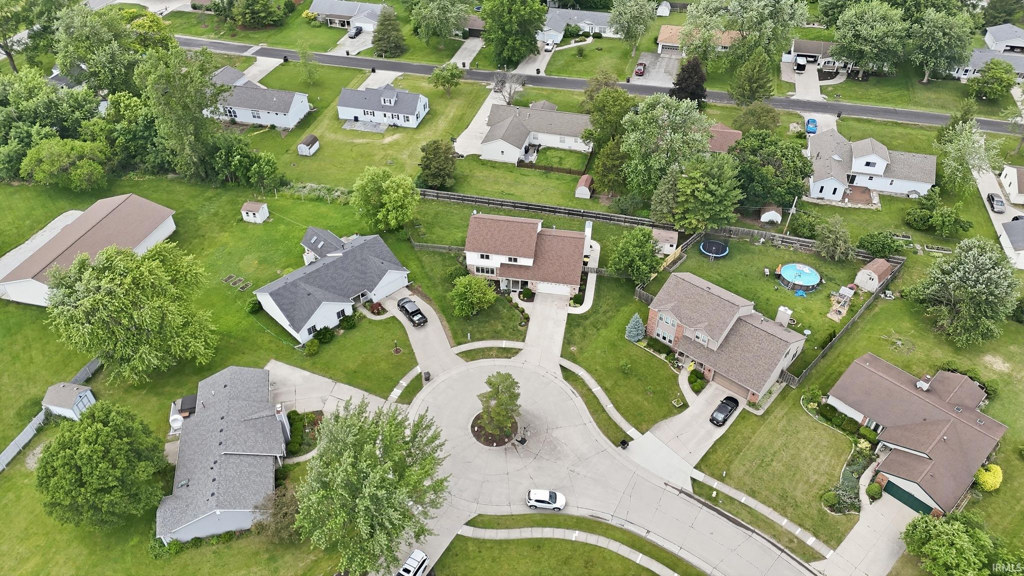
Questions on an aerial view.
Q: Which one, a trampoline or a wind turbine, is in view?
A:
trampoline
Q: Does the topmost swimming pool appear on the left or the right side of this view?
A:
right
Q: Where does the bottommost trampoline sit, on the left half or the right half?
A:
right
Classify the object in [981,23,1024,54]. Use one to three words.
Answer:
building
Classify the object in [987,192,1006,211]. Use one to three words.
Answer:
car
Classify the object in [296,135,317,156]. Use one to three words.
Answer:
shed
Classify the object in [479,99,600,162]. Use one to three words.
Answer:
house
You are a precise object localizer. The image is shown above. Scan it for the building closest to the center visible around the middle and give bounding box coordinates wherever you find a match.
[464,208,595,299]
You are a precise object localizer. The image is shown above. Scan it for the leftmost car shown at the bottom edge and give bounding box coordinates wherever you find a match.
[395,547,430,576]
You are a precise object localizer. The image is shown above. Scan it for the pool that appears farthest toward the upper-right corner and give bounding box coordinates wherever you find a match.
[776,261,822,295]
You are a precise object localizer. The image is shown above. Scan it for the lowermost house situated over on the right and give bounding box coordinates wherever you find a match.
[827,350,1007,519]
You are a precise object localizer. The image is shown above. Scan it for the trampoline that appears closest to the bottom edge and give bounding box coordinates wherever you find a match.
[700,234,730,259]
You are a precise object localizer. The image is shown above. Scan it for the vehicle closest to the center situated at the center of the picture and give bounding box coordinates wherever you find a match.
[396,297,427,327]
